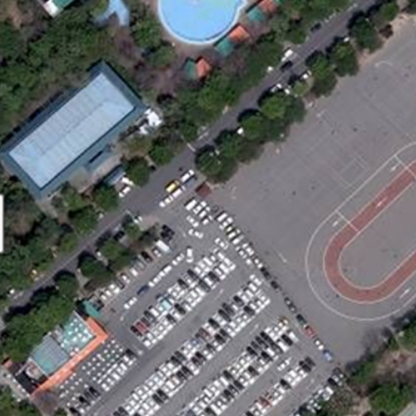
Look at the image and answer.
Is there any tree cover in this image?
Yes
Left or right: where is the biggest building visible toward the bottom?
left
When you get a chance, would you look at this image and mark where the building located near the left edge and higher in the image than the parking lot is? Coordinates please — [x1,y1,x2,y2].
[0,61,146,198]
